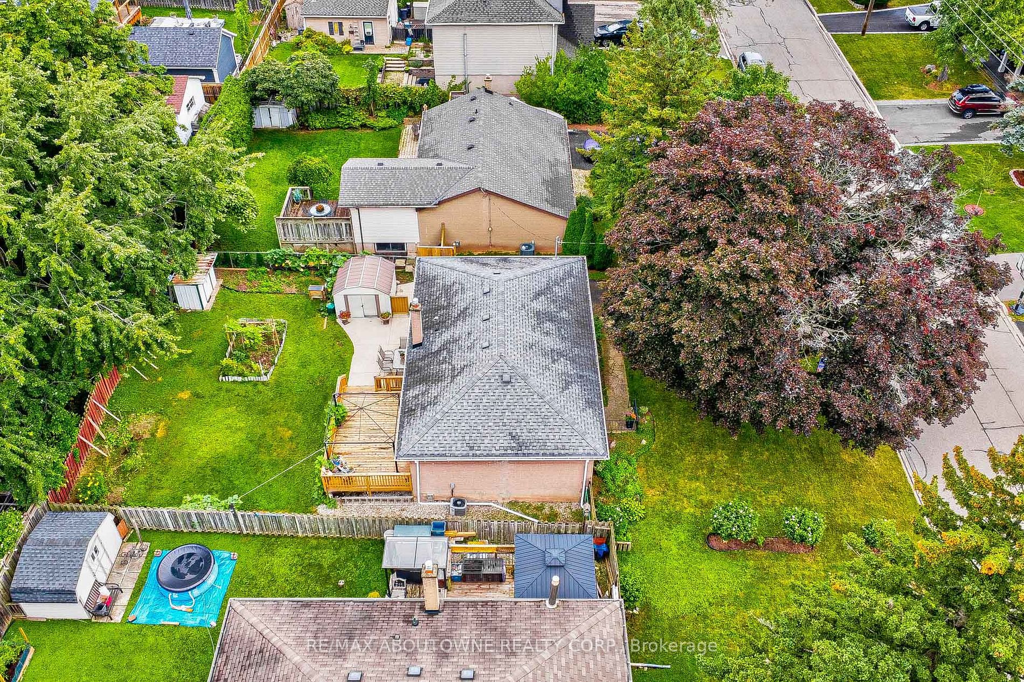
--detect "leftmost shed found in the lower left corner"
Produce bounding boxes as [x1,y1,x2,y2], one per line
[4,514,119,617]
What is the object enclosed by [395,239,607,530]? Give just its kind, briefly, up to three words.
house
